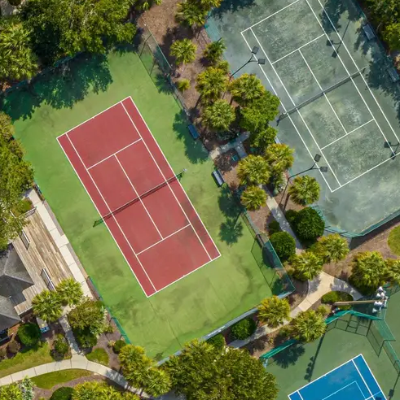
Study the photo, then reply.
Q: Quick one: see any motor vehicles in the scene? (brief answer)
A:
No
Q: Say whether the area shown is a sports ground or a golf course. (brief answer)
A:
sports ground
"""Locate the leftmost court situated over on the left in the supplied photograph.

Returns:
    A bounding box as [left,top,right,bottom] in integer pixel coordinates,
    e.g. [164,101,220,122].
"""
[0,34,284,364]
